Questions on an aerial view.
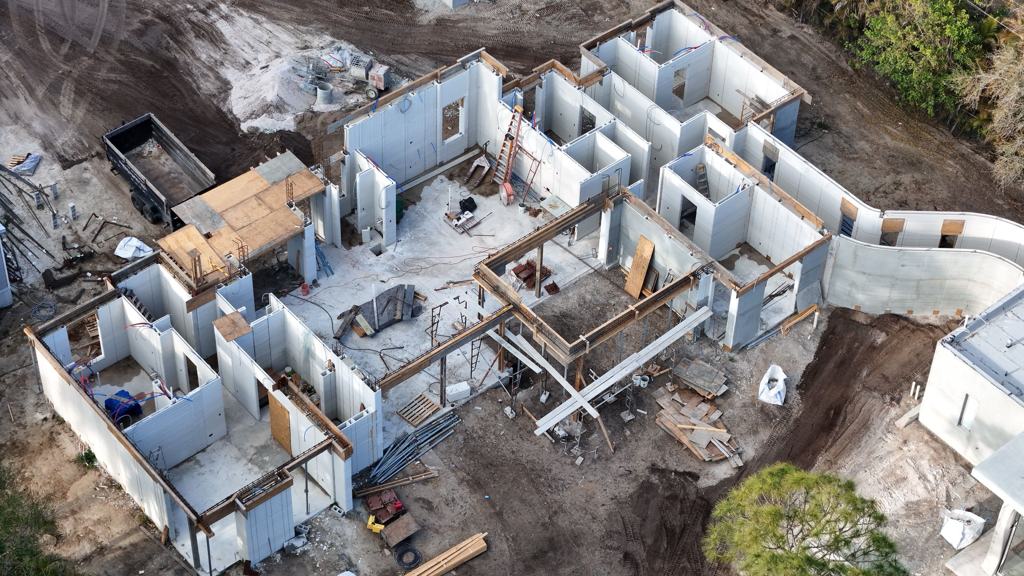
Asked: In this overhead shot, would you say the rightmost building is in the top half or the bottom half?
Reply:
bottom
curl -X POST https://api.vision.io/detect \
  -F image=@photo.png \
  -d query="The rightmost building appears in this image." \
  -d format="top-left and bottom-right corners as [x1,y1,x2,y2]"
[918,283,1024,467]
